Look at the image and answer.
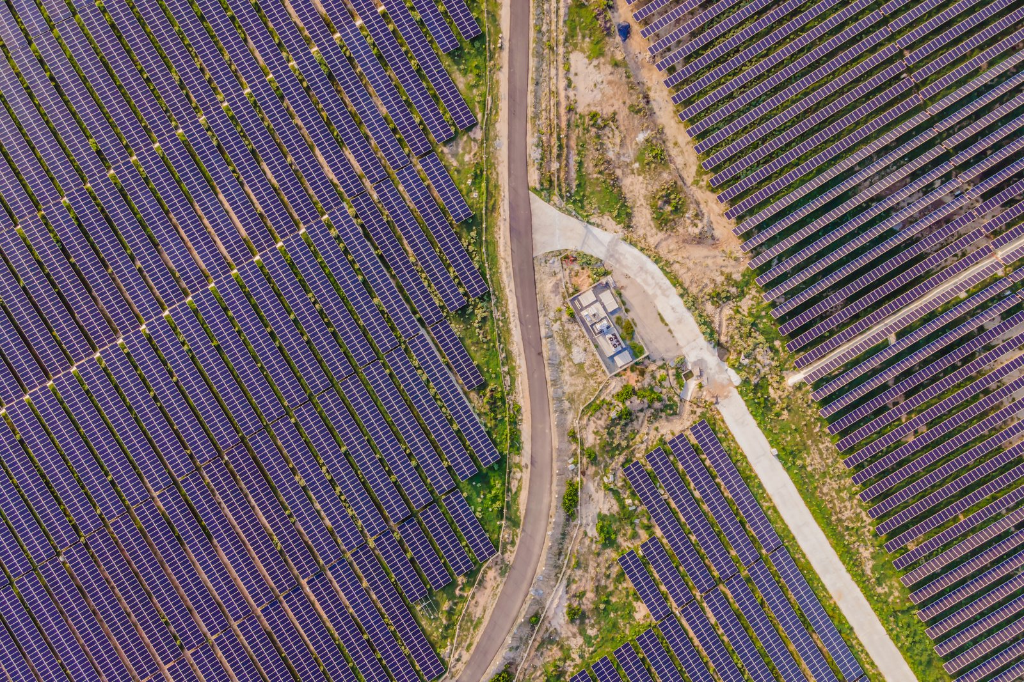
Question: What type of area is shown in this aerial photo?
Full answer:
This looks like a solar farm.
